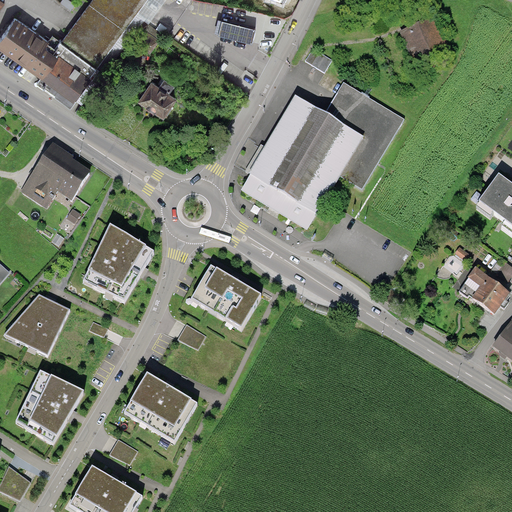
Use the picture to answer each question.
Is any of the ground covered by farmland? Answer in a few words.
Yes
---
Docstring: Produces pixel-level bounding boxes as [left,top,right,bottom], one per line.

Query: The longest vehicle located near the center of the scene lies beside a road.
[200,228,232,244]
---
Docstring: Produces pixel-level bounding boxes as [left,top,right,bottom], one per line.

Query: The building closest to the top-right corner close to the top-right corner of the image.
[400,21,442,54]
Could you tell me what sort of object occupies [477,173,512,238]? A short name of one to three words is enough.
building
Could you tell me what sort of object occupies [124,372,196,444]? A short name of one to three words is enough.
building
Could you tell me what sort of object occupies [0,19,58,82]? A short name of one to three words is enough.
house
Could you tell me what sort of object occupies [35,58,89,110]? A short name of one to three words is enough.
house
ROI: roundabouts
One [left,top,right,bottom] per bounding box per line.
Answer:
[160,176,228,244]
